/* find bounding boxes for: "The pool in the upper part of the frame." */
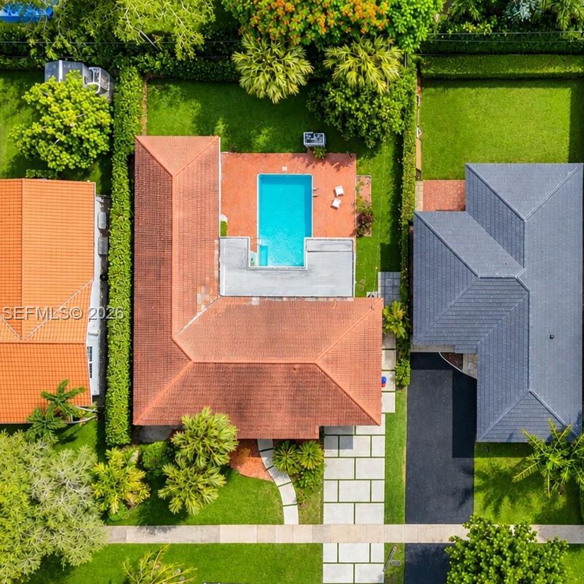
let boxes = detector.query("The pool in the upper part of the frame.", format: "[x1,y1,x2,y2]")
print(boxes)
[251,173,320,268]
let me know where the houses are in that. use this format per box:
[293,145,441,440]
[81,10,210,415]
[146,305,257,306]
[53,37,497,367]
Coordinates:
[133,135,383,439]
[413,163,584,442]
[0,179,104,423]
